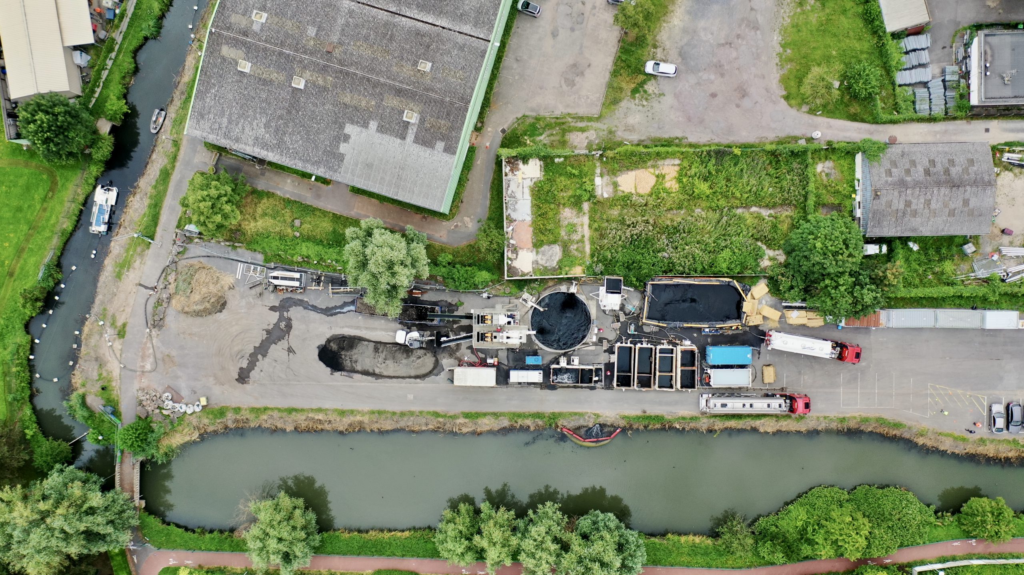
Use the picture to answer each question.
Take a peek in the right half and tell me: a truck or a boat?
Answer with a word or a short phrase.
truck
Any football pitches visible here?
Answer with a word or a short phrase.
No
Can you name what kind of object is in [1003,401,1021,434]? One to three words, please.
car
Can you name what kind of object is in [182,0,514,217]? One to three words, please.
warehouse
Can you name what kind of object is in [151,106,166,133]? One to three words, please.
boat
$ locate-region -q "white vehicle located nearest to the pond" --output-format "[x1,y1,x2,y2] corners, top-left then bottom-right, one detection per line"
[760,329,863,364]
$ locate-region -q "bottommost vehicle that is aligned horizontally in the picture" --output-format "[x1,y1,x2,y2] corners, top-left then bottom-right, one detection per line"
[696,393,812,415]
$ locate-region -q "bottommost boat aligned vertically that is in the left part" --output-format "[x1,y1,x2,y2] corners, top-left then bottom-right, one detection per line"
[89,182,119,235]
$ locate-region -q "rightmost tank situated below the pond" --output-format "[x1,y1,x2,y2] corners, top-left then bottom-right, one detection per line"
[704,367,752,387]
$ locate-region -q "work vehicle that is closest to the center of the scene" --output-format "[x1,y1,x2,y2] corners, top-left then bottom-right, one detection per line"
[397,330,435,349]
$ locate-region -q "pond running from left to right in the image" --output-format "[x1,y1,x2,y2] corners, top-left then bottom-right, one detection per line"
[641,277,750,328]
